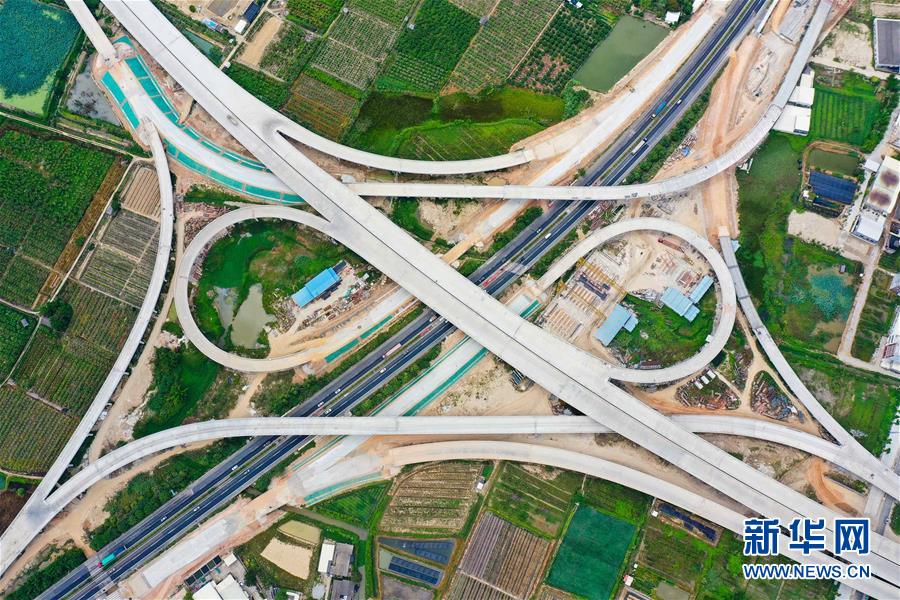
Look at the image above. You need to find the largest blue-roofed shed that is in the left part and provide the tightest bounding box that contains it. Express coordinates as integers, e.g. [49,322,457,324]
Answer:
[292,266,340,308]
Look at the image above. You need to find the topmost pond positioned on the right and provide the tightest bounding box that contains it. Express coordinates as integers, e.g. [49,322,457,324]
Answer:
[573,16,671,92]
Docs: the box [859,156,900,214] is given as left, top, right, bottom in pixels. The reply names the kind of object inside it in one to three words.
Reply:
building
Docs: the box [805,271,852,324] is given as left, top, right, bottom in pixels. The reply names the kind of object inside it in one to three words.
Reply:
pond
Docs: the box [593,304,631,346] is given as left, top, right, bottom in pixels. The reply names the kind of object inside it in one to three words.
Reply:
shed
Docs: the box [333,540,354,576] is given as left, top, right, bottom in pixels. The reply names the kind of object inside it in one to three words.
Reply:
house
